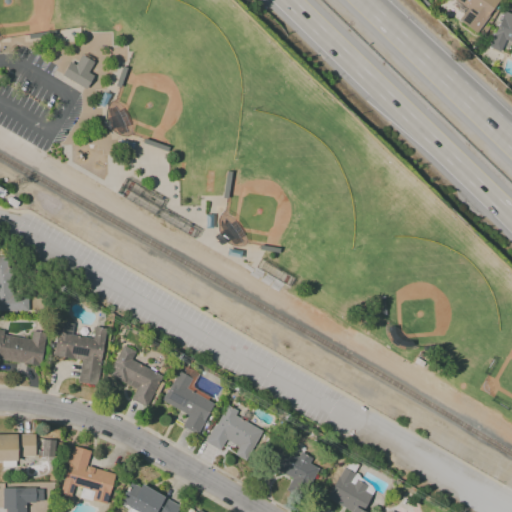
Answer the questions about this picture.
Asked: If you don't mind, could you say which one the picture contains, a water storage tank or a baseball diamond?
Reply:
baseball diamond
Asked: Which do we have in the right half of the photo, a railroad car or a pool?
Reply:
pool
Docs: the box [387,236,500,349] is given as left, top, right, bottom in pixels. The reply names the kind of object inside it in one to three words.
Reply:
baseball field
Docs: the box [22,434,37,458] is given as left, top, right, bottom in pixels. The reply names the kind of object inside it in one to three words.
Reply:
building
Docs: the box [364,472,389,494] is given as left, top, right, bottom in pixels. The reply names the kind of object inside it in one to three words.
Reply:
swimming pool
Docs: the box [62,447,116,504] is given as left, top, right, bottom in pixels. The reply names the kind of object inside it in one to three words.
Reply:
house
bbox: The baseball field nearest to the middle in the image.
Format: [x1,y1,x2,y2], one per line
[219,108,356,248]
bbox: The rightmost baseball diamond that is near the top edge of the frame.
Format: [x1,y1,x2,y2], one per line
[108,0,242,159]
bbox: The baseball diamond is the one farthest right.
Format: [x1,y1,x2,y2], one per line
[480,349,512,398]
